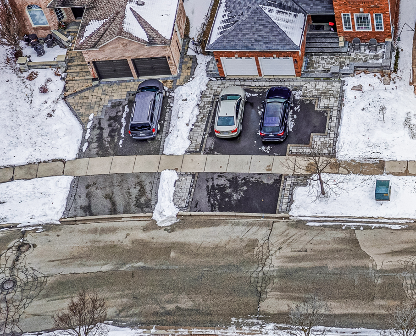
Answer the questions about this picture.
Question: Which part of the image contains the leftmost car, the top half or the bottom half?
top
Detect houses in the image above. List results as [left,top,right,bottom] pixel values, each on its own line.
[9,0,190,81]
[203,0,398,78]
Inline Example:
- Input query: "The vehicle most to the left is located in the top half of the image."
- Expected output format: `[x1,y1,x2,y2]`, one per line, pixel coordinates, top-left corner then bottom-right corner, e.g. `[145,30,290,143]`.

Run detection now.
[128,86,167,139]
